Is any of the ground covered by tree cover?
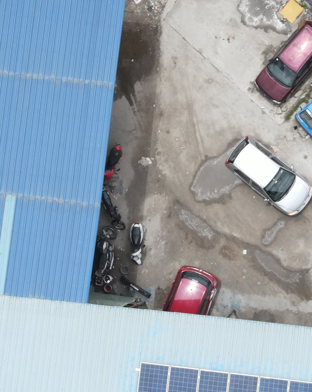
No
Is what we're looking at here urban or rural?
urban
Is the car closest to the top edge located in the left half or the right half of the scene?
right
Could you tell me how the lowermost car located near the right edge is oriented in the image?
at an angle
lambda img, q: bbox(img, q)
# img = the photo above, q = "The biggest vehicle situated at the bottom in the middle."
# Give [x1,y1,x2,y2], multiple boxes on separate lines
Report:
[161,261,216,314]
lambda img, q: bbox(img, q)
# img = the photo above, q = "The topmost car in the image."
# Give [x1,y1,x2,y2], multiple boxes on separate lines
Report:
[256,18,312,104]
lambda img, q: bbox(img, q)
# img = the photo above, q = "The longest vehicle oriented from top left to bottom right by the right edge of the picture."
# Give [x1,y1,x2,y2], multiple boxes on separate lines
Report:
[225,136,310,213]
